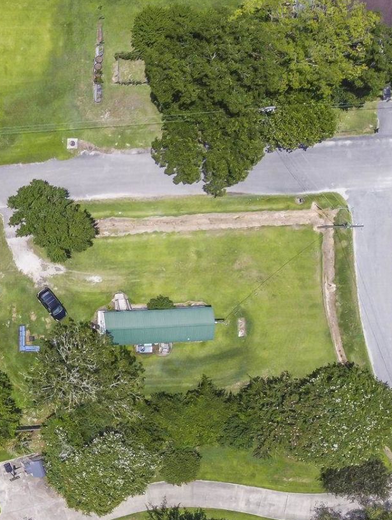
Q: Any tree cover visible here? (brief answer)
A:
Yes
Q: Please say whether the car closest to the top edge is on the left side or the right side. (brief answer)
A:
left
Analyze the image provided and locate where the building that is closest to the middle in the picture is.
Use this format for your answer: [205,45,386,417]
[97,306,215,344]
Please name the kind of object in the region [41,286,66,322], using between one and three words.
car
